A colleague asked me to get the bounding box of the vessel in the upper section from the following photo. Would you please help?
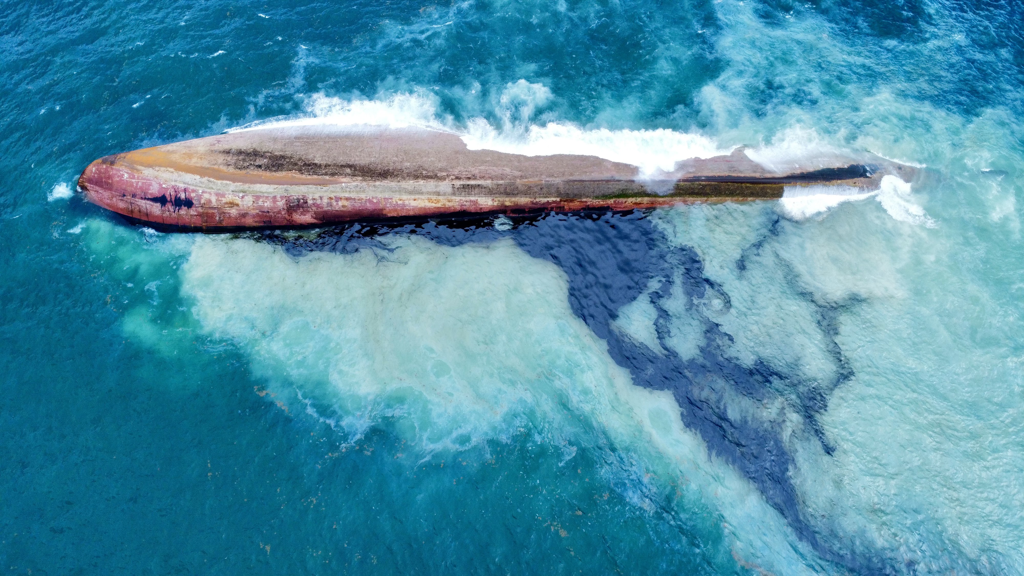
[78,127,898,232]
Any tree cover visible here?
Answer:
No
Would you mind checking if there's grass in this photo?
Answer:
No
